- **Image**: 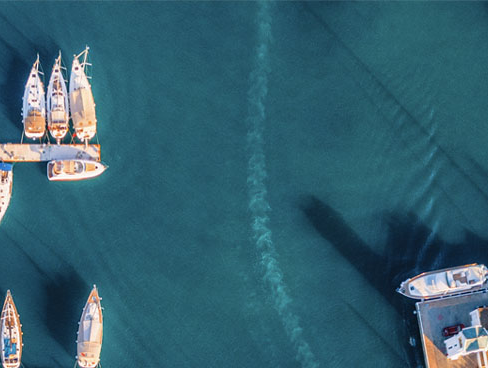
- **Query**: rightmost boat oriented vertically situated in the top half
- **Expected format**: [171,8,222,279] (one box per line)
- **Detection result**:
[66,47,97,147]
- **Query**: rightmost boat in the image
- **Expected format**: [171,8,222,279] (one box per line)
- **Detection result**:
[397,266,488,298]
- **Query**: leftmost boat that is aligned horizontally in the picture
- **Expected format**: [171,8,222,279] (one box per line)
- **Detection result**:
[48,159,109,181]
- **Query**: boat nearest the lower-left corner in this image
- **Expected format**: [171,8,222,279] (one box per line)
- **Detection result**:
[0,282,23,368]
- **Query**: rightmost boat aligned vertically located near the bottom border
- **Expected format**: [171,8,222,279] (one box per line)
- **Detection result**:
[77,278,106,368]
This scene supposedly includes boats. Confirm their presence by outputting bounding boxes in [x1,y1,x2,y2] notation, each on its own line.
[0,161,17,237]
[0,282,23,368]
[43,51,68,148]
[77,278,106,368]
[66,47,97,147]
[19,54,48,145]
[397,266,488,298]
[48,159,109,181]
